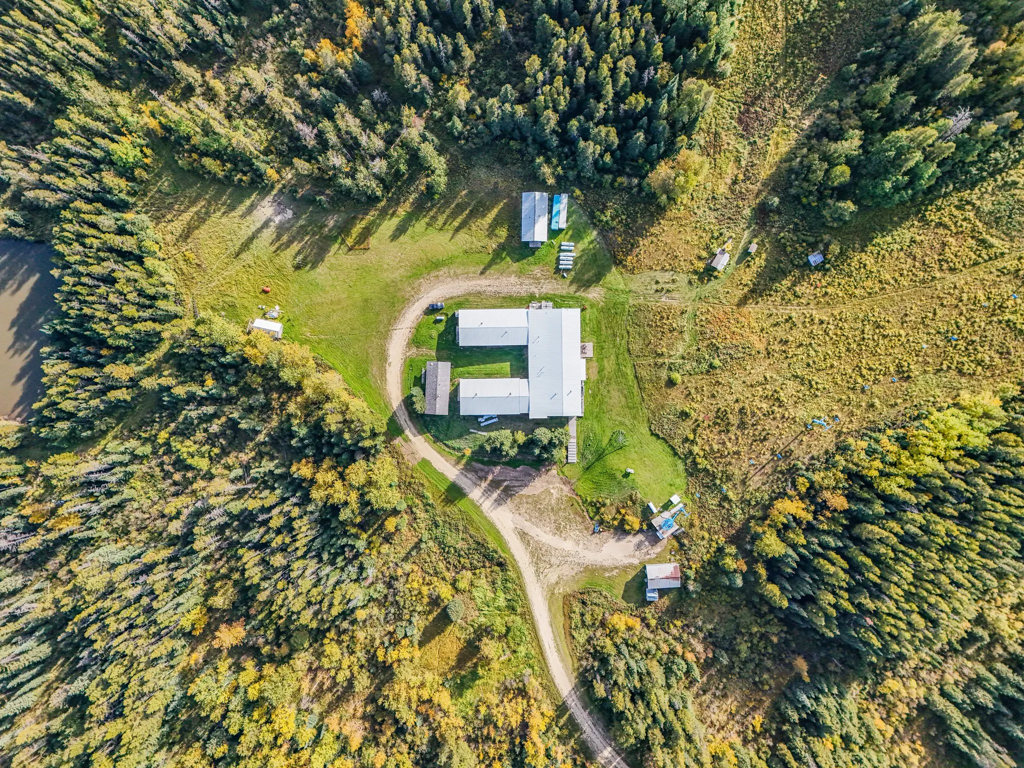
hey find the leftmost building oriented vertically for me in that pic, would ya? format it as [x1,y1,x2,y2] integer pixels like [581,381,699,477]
[424,361,451,415]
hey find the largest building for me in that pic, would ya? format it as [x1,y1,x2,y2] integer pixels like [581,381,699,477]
[459,308,586,419]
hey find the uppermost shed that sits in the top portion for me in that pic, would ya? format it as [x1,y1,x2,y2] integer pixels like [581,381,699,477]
[521,192,548,242]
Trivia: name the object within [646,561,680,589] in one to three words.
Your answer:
building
